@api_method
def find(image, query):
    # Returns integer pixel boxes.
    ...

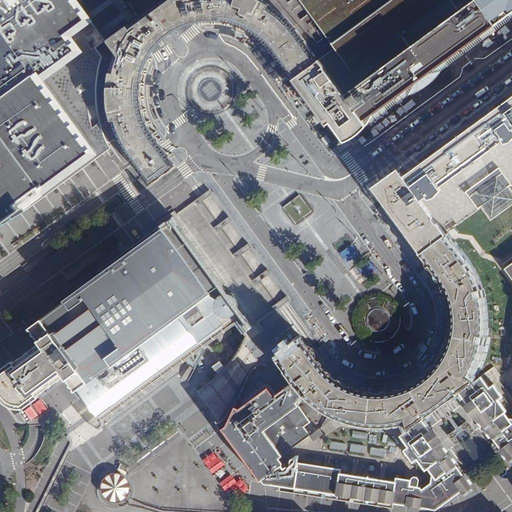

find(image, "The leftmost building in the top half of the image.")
[0,0,96,225]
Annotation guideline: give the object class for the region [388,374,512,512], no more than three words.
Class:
building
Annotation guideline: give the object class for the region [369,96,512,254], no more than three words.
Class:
building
